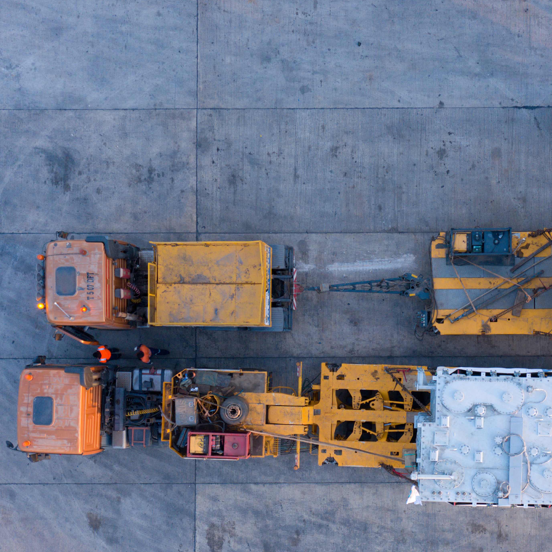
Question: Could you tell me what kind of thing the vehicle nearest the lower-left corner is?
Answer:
truck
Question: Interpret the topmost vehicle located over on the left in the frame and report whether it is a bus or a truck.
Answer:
truck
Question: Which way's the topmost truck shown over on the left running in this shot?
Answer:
from side to side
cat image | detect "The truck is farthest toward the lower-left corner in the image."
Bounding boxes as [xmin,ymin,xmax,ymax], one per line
[4,355,220,461]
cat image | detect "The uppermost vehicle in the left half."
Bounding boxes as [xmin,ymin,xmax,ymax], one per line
[31,231,304,344]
